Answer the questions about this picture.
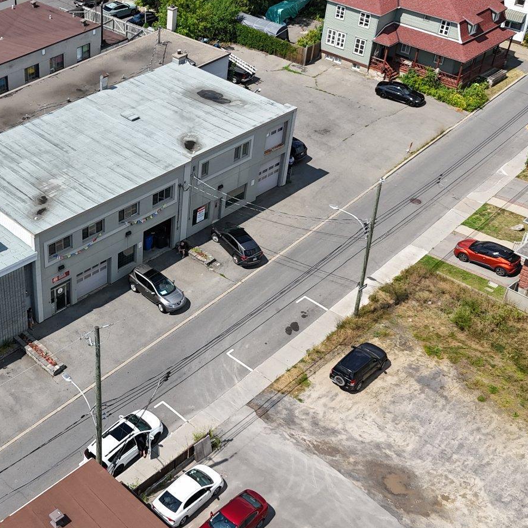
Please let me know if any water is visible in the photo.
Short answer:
No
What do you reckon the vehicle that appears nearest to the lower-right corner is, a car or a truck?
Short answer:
car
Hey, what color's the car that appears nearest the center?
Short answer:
black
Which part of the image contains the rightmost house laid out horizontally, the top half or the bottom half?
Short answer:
top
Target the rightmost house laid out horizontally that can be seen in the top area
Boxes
[318,0,520,87]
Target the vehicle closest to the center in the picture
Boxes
[211,220,268,265]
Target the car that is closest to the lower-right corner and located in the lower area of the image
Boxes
[333,335,389,387]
